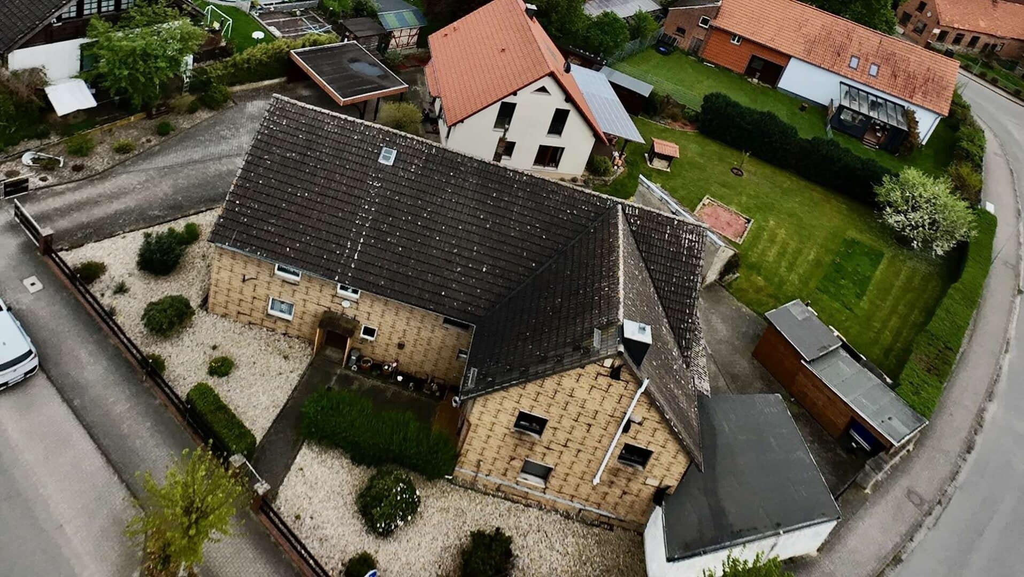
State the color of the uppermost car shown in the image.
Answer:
white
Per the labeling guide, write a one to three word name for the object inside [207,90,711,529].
house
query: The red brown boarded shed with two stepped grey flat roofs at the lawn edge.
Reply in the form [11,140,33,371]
[744,301,930,466]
